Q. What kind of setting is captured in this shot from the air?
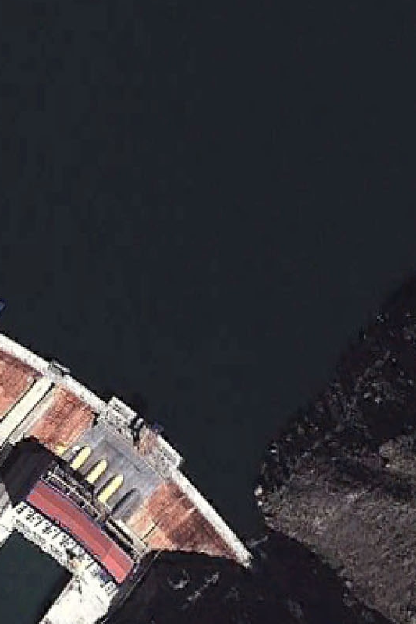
port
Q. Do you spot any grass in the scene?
No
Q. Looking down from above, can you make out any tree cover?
No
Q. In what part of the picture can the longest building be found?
bottom left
